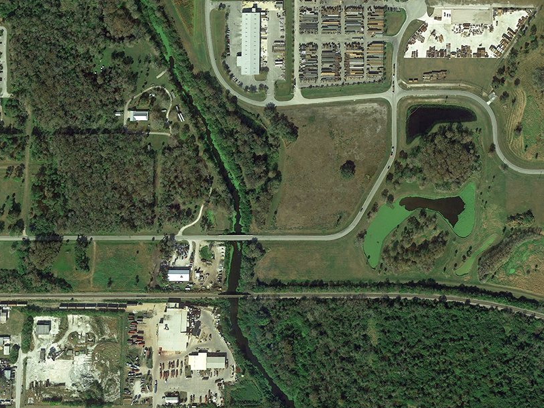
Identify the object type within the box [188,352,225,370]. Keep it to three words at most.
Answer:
building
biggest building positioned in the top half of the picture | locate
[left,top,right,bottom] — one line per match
[236,8,259,74]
